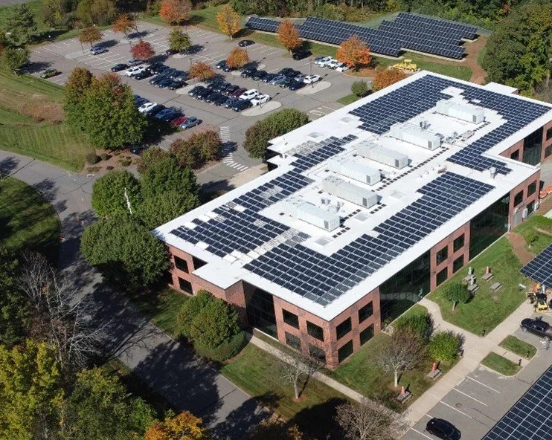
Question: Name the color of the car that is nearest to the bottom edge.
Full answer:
In this view, the car that is nearest to the bottom edge is black.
